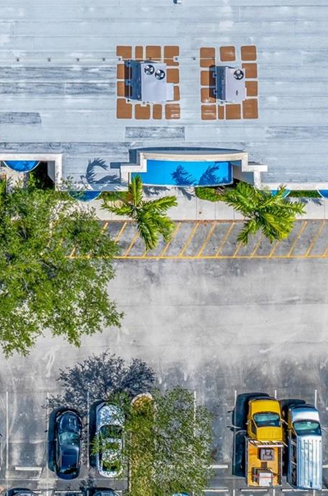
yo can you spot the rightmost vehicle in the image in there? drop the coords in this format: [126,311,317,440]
[283,403,325,494]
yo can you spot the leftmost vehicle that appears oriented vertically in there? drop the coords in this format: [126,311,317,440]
[48,408,82,480]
